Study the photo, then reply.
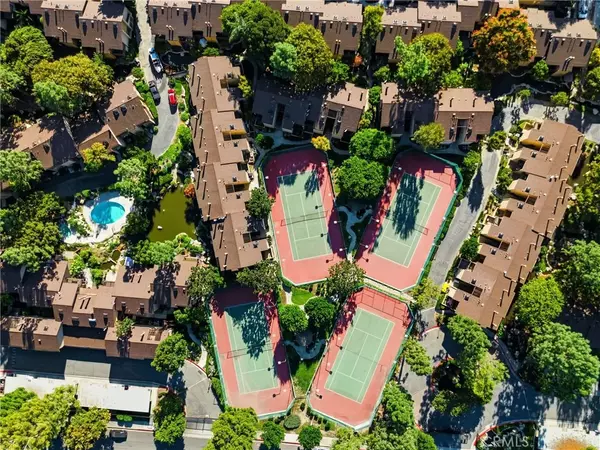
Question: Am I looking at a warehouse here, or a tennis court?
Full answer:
Looking from above, you can make out a tennis court.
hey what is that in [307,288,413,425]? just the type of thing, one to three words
tennis court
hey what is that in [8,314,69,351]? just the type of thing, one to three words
house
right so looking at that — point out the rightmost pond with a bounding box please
[148,189,206,244]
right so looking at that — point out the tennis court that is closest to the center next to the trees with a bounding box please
[261,146,348,284]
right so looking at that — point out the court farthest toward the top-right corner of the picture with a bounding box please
[357,149,461,290]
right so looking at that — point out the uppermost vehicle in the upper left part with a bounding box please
[149,48,163,73]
